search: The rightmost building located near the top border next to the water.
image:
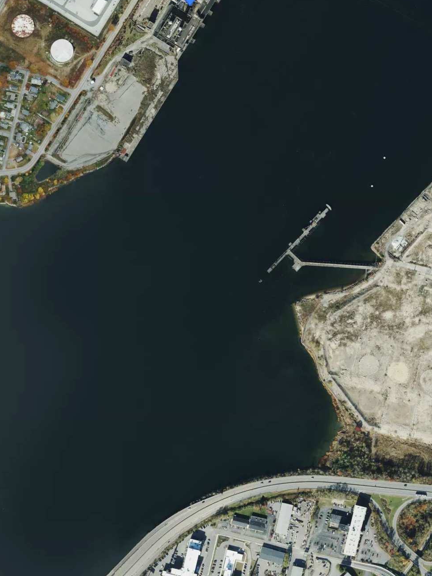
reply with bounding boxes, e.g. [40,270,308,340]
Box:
[153,0,215,50]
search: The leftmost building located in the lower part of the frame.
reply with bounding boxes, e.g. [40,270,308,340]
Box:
[163,539,202,576]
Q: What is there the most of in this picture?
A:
water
